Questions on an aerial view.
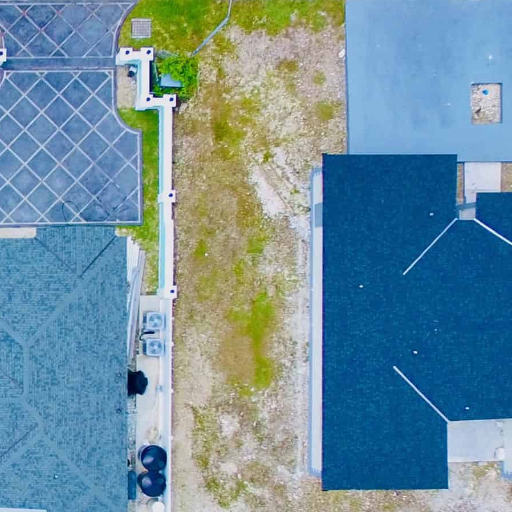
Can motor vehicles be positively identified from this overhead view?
No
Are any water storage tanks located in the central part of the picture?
No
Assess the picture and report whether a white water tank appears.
No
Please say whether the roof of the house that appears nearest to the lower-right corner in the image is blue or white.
blue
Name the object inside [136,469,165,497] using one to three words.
water tank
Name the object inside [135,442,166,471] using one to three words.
water tank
